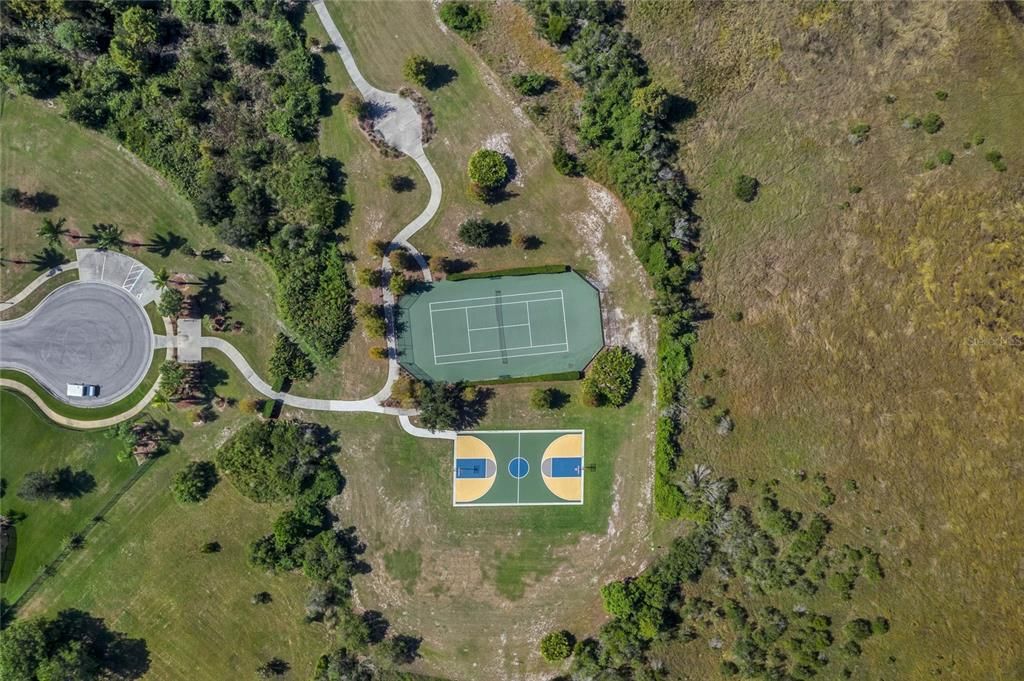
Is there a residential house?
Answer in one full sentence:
No, no residential house is visible in the scene.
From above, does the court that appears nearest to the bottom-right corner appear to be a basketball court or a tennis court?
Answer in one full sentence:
I'd say the court that appears nearest to the bottom-right corner is a basketball court.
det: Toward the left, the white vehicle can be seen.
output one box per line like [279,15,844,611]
[67,384,99,398]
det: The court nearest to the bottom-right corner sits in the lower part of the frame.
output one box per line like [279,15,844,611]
[453,430,584,506]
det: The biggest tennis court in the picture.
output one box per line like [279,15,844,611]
[399,270,604,385]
